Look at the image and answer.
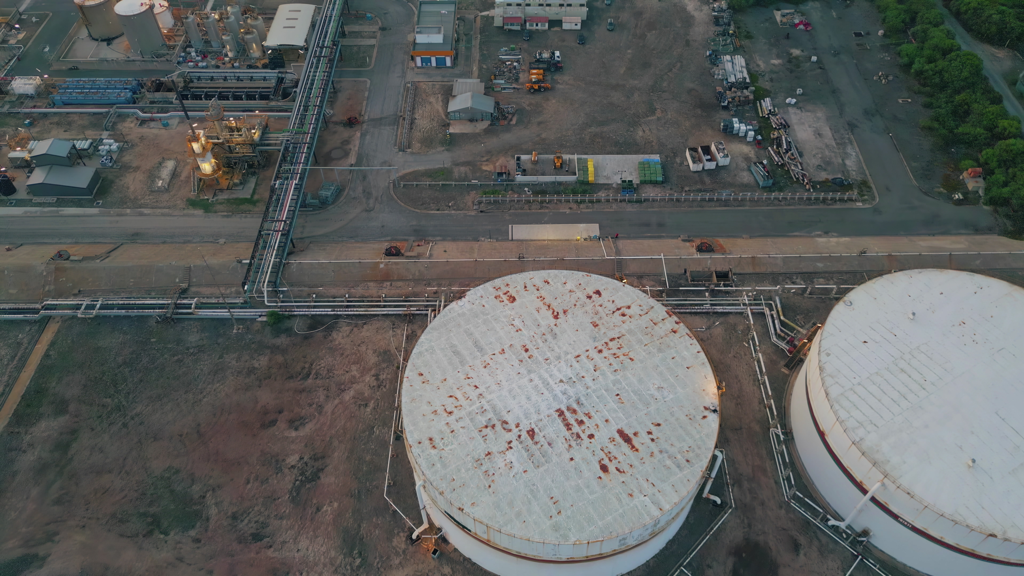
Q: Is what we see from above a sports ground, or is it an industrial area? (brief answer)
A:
industrial area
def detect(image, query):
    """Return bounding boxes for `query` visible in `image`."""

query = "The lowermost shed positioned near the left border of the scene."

[26,163,102,200]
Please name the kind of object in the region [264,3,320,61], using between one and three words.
building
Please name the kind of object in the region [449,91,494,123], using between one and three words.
shed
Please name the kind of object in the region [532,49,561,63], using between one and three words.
vehicle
